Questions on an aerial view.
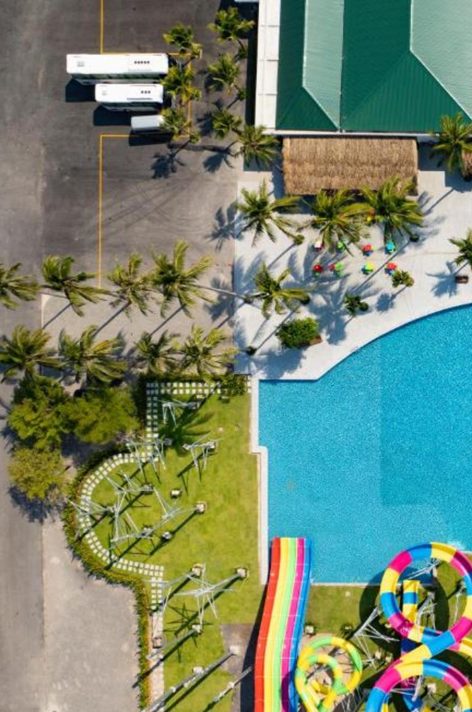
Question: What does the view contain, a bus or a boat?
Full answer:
Looking from above, you can make out a bus.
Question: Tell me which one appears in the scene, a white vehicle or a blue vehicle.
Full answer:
Looking from above, you can make out a white vehicle.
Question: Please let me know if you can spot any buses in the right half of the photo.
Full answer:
No, there's no bus to be seen in the right half of the photo.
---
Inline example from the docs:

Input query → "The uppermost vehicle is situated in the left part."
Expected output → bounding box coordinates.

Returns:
[67,51,181,85]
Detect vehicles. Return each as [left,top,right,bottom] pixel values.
[67,51,181,85]
[133,116,178,137]
[95,82,176,114]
